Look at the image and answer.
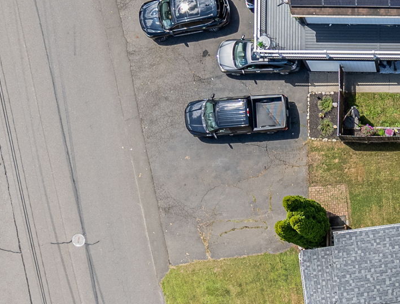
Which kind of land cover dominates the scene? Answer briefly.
paved ground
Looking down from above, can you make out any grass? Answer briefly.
Yes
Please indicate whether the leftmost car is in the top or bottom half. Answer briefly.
top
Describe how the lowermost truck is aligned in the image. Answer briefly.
from left to right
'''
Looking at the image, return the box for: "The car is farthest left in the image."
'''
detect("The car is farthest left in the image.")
[139,0,233,43]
